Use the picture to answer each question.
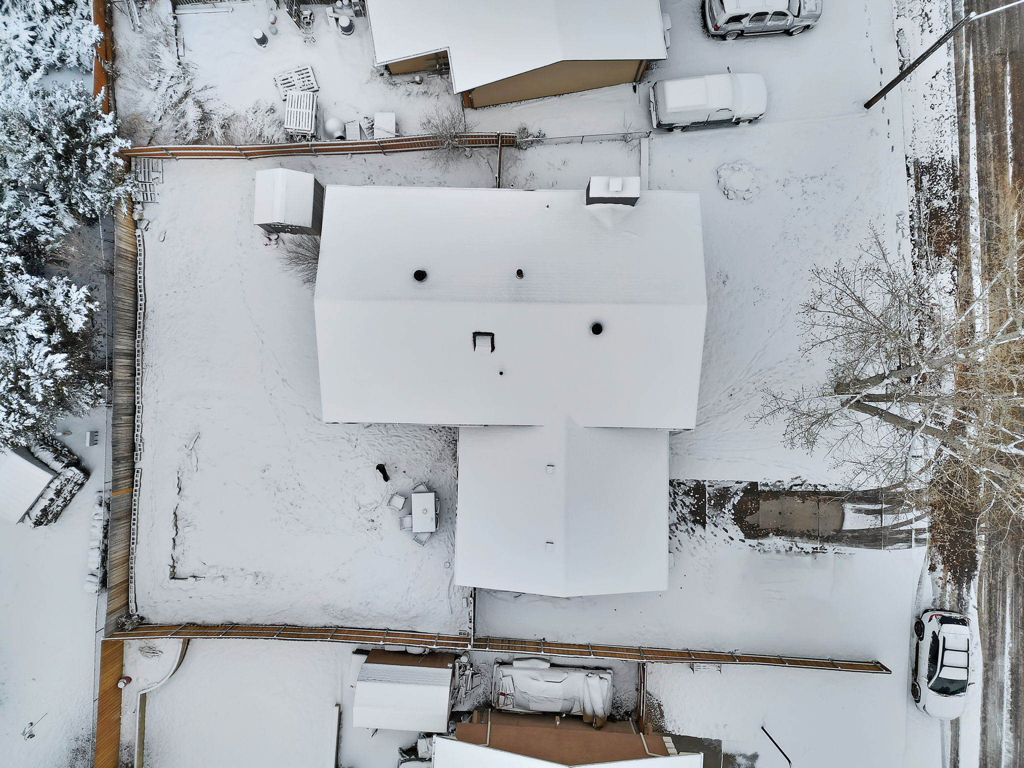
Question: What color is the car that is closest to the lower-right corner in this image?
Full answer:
From above, the car that is closest to the lower-right corner appears white.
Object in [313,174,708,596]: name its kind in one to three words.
house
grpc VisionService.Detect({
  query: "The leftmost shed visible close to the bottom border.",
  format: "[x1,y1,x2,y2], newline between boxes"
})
[353,646,454,734]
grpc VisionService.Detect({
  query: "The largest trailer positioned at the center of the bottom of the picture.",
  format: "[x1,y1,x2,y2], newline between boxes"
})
[490,658,615,727]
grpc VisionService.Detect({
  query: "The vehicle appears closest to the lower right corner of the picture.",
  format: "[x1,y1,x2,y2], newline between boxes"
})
[911,603,977,717]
